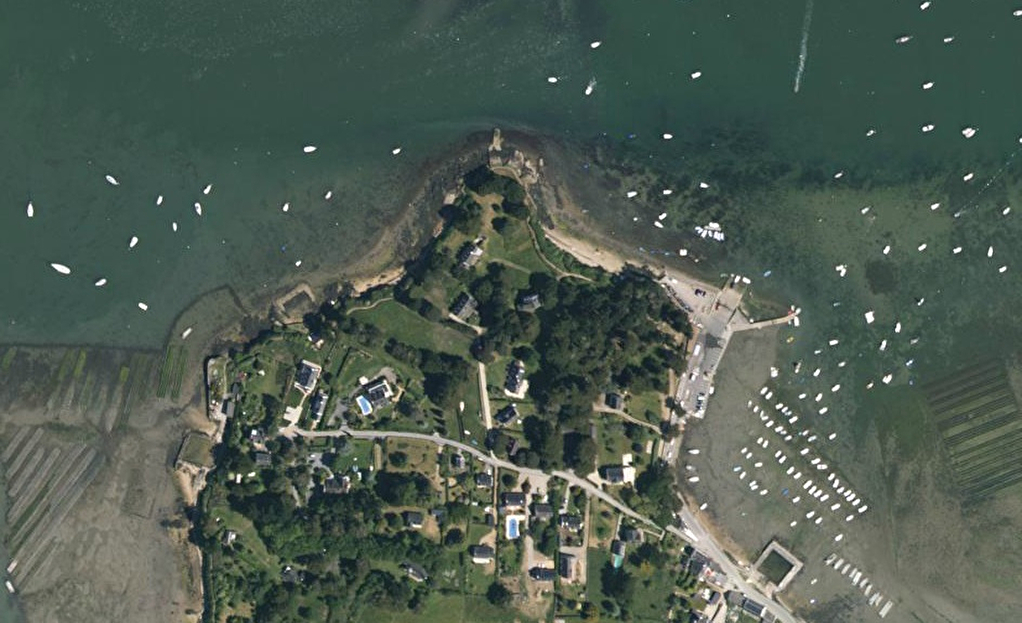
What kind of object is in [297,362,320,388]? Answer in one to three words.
house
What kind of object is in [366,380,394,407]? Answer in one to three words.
house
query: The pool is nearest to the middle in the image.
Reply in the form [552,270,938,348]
[356,395,372,415]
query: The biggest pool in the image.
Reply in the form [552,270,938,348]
[506,515,525,539]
